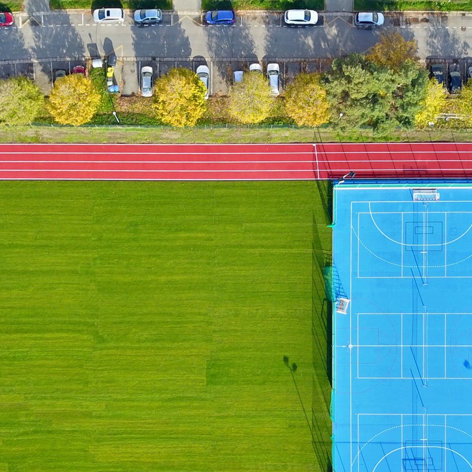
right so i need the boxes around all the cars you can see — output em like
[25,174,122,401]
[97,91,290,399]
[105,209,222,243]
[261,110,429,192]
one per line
[206,10,234,25]
[0,11,13,26]
[266,64,282,96]
[285,8,318,25]
[448,64,463,94]
[140,66,154,97]
[354,11,384,28]
[248,64,263,92]
[195,66,210,99]
[231,70,244,95]
[94,7,123,23]
[430,64,446,92]
[134,9,162,24]
[466,67,472,85]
